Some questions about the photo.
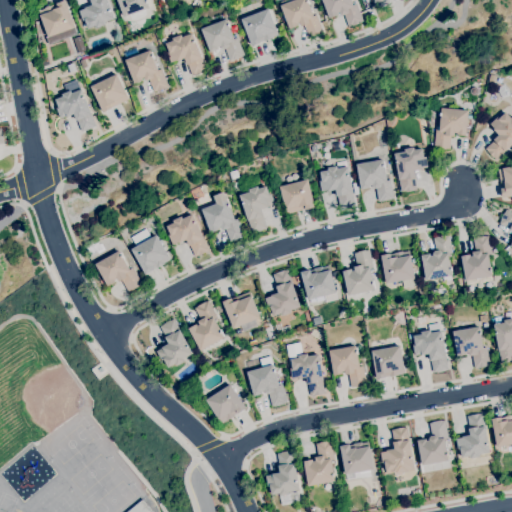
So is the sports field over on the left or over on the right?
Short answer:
left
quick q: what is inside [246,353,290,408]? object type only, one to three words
house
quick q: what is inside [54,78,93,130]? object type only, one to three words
house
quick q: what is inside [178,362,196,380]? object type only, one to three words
swimming pool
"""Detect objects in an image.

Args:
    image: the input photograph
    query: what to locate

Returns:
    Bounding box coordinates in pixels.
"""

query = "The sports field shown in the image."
[0,319,86,464]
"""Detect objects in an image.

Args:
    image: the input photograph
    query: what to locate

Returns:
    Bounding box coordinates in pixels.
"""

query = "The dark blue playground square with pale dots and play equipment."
[2,446,57,502]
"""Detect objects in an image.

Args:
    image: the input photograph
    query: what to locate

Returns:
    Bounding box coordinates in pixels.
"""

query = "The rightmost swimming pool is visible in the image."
[204,374,224,390]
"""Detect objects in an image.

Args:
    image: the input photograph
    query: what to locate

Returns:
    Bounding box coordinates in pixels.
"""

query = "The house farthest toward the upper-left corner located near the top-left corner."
[39,0,78,44]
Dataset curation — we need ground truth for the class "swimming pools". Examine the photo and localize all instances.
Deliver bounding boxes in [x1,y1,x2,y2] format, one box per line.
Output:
[92,38,113,48]
[178,362,196,380]
[204,374,224,390]
[120,48,139,60]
